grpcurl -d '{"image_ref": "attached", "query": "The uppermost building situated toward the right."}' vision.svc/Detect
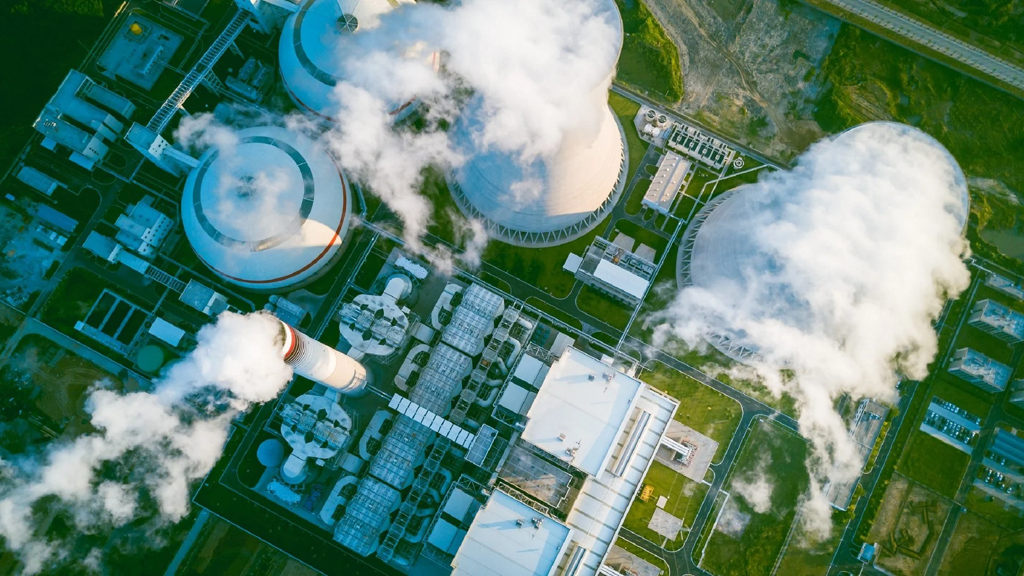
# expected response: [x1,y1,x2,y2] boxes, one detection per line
[640,151,692,218]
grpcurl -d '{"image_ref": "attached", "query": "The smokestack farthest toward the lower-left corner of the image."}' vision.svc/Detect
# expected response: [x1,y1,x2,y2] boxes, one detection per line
[243,315,378,404]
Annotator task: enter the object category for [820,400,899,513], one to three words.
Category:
building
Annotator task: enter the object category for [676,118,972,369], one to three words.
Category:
cooling tower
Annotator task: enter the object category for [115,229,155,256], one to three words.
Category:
house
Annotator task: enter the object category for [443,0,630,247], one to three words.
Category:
cooling tower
